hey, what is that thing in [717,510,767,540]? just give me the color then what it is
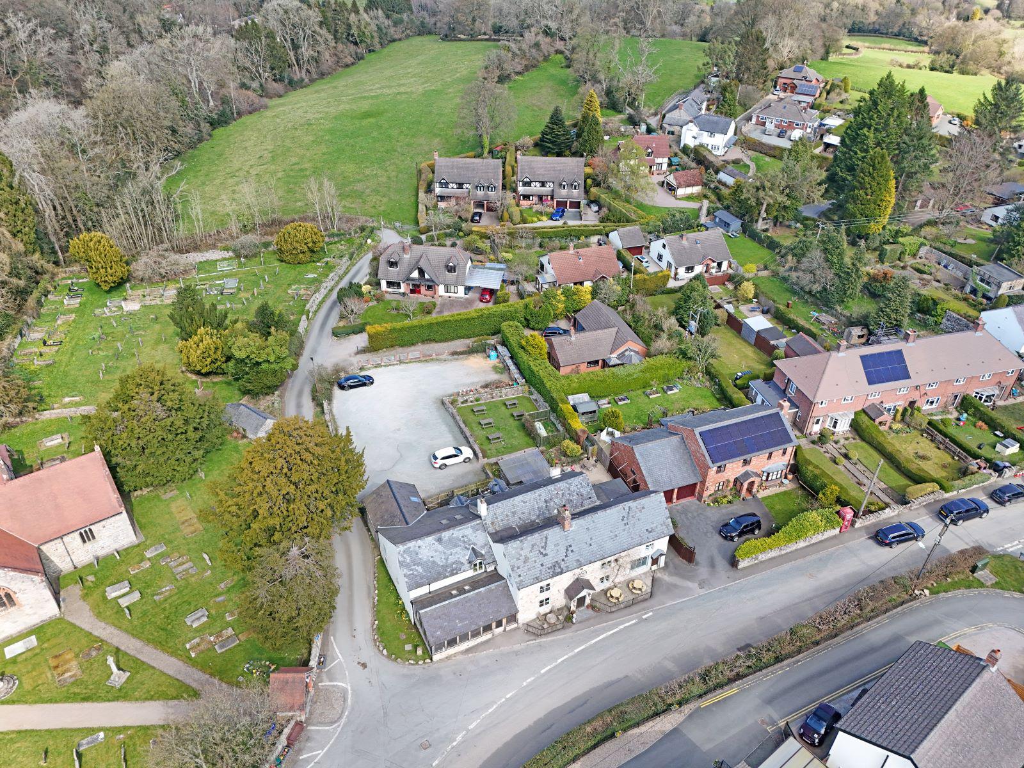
blue car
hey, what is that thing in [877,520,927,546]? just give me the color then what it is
blue car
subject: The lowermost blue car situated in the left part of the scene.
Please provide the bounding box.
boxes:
[337,374,374,390]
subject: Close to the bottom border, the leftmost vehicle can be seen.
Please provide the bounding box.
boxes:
[800,696,846,746]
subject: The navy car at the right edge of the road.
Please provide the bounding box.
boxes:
[993,480,1024,505]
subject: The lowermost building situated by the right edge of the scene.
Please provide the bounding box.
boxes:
[828,641,1024,768]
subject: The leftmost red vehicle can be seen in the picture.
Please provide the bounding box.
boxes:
[479,290,495,302]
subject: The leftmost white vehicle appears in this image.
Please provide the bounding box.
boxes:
[430,444,474,467]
